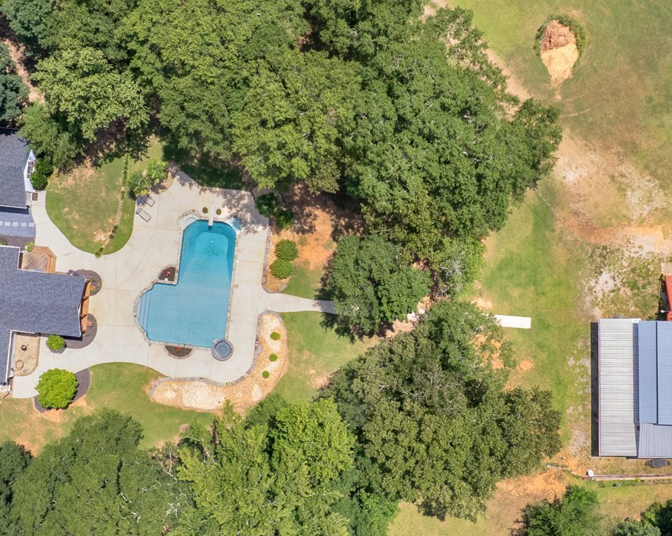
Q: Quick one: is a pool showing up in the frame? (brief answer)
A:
Yes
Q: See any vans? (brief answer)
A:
No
